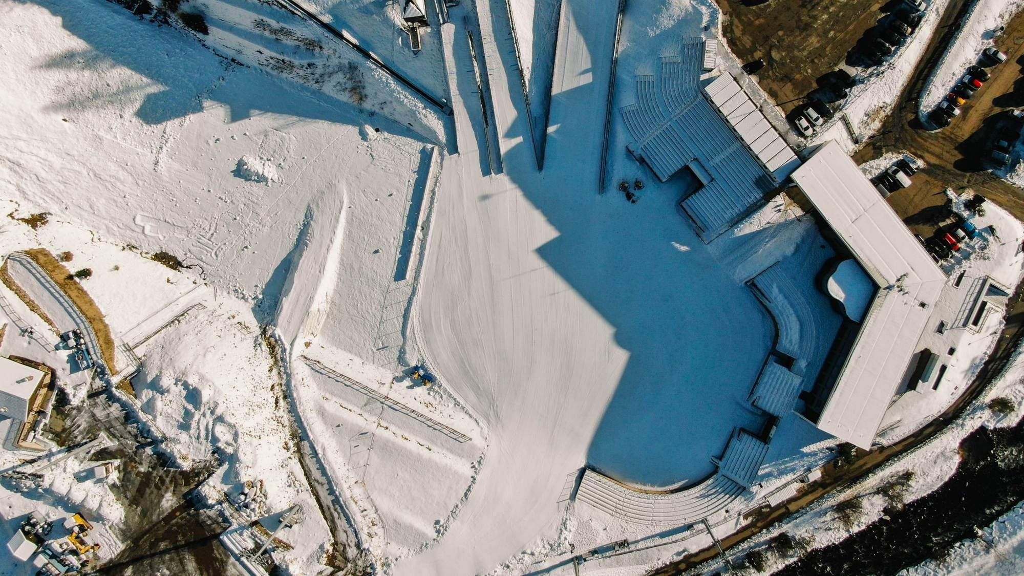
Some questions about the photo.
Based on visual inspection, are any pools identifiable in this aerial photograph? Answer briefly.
No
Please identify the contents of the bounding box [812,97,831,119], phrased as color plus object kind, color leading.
black car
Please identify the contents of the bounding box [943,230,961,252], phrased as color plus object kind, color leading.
red car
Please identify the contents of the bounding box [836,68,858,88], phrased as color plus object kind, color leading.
black car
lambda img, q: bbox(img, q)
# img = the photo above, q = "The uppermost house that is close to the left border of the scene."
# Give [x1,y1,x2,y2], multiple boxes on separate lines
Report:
[0,354,59,453]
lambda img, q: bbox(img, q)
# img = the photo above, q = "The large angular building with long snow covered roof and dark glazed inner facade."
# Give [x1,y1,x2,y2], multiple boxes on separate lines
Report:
[770,140,947,450]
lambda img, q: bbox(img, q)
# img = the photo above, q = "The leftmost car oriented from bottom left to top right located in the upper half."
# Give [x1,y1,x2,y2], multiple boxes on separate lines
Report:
[743,58,765,75]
